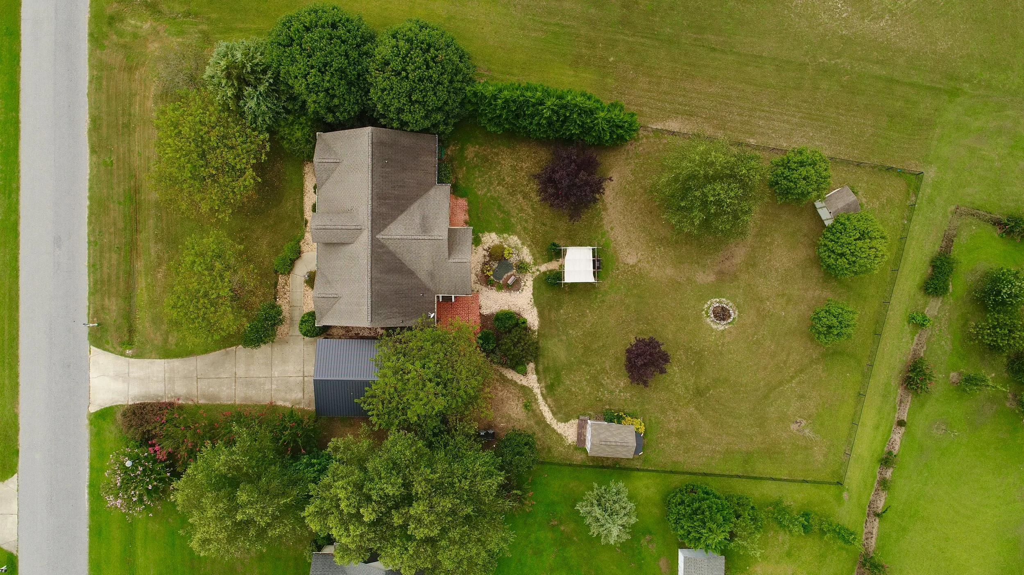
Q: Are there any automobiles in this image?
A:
No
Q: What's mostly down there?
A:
grass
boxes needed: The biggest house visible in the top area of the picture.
[309,126,472,327]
